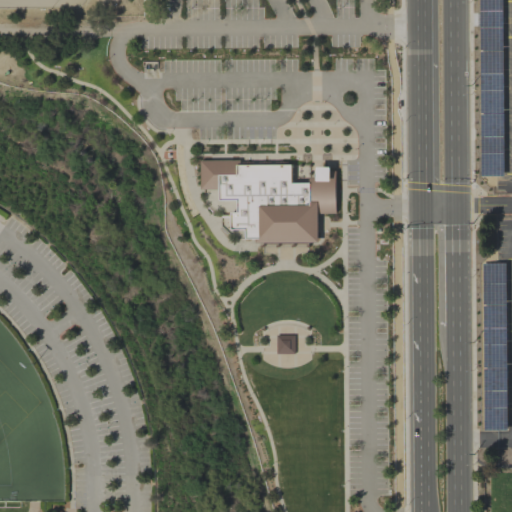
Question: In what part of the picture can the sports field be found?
bottom left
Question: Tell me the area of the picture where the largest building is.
center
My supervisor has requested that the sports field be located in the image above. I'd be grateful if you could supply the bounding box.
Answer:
[0,322,64,500]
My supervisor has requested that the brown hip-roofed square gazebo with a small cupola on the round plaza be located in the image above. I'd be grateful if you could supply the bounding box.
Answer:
[277,333,298,354]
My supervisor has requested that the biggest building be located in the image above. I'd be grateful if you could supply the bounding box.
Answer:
[200,158,336,245]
